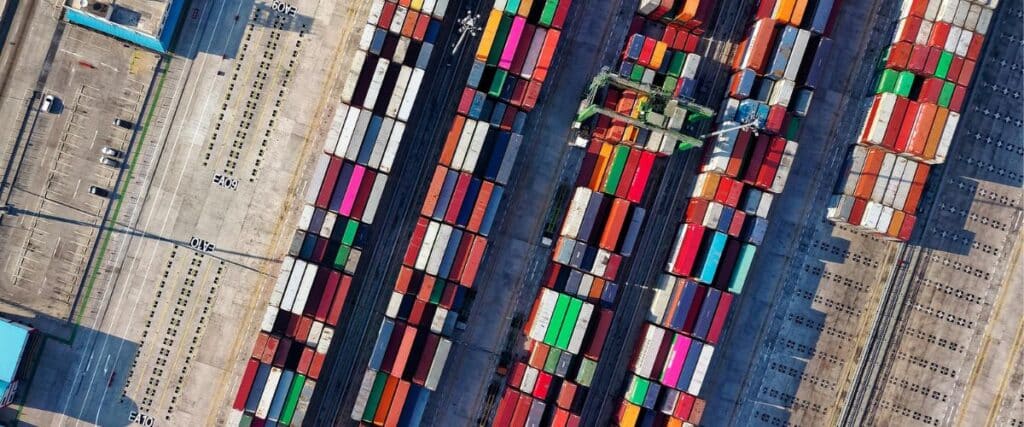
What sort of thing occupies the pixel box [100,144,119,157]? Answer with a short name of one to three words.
vehicle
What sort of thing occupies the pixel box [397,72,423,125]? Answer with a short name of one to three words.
shipping container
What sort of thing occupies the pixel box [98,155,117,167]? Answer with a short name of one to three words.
vehicle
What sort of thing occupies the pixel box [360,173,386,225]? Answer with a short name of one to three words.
shipping container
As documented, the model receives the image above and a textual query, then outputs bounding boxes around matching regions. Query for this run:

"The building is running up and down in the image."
[0,309,47,411]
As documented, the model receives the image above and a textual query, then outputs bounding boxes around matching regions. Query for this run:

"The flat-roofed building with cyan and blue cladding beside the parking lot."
[62,0,188,54]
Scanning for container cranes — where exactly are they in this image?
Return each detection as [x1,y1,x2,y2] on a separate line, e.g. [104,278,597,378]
[567,66,716,163]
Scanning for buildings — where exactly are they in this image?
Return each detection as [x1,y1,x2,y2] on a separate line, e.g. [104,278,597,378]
[0,309,47,411]
[62,0,188,54]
